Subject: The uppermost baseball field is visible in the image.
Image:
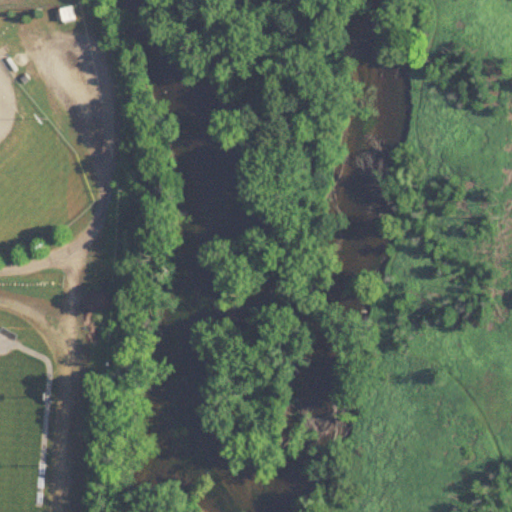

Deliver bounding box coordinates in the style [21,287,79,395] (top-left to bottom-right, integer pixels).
[0,20,94,243]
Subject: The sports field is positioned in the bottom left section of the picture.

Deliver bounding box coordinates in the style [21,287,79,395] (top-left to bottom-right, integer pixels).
[0,314,52,512]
